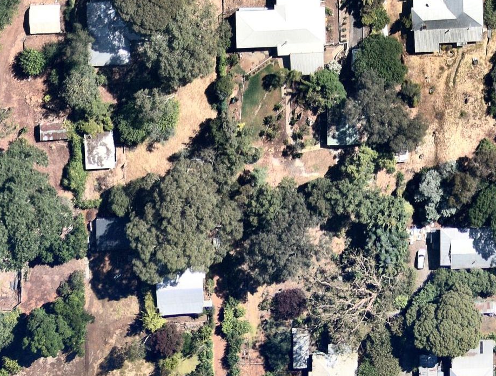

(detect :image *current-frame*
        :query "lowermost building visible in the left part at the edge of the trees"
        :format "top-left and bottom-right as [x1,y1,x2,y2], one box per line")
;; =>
[157,269,213,316]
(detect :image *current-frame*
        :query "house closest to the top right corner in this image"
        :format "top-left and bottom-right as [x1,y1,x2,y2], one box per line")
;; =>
[411,0,483,54]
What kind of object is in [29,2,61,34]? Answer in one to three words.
shed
